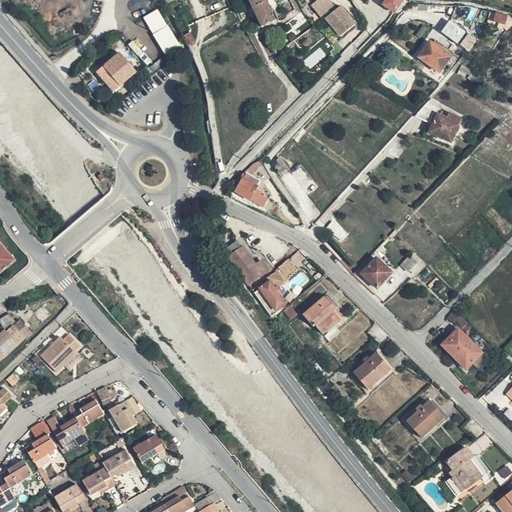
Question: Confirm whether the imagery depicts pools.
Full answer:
Yes, the photo shows a pool.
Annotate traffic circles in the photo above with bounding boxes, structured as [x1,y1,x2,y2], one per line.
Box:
[134,154,172,191]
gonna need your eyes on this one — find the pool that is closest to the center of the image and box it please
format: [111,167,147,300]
[290,272,308,290]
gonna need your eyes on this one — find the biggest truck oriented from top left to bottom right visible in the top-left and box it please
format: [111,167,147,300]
[129,40,150,64]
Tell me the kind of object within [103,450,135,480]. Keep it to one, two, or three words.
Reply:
house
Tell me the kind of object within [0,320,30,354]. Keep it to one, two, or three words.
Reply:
house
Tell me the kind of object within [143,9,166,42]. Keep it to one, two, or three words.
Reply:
building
